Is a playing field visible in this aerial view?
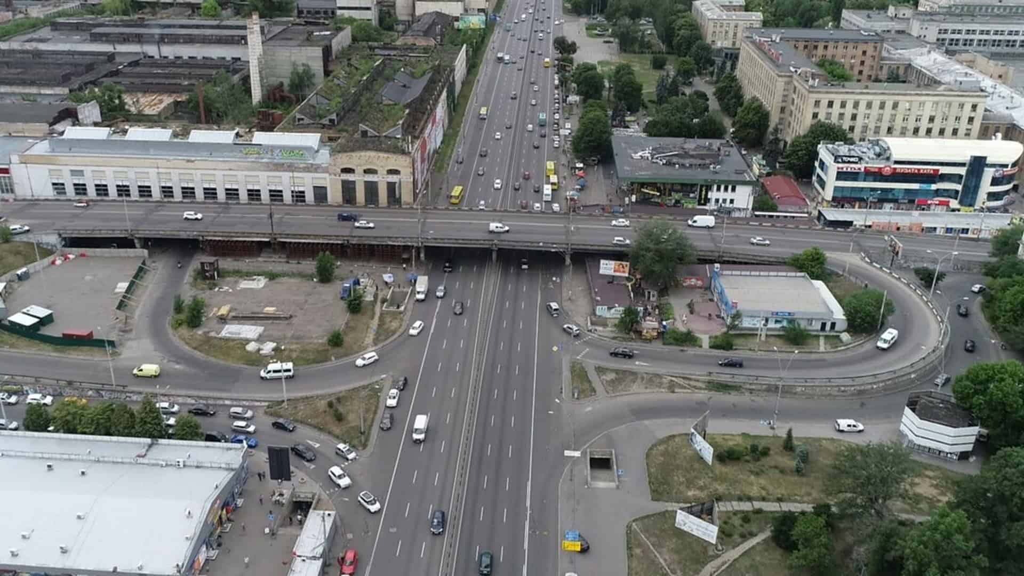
No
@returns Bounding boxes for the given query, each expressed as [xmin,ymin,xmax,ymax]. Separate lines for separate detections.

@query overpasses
[0,198,1000,276]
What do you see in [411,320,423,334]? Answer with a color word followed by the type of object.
white vehicle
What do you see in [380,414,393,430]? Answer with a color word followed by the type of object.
gray vehicle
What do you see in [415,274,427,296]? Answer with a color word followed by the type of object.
white vehicle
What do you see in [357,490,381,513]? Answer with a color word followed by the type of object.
white car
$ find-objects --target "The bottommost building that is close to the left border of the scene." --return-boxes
[0,431,249,576]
